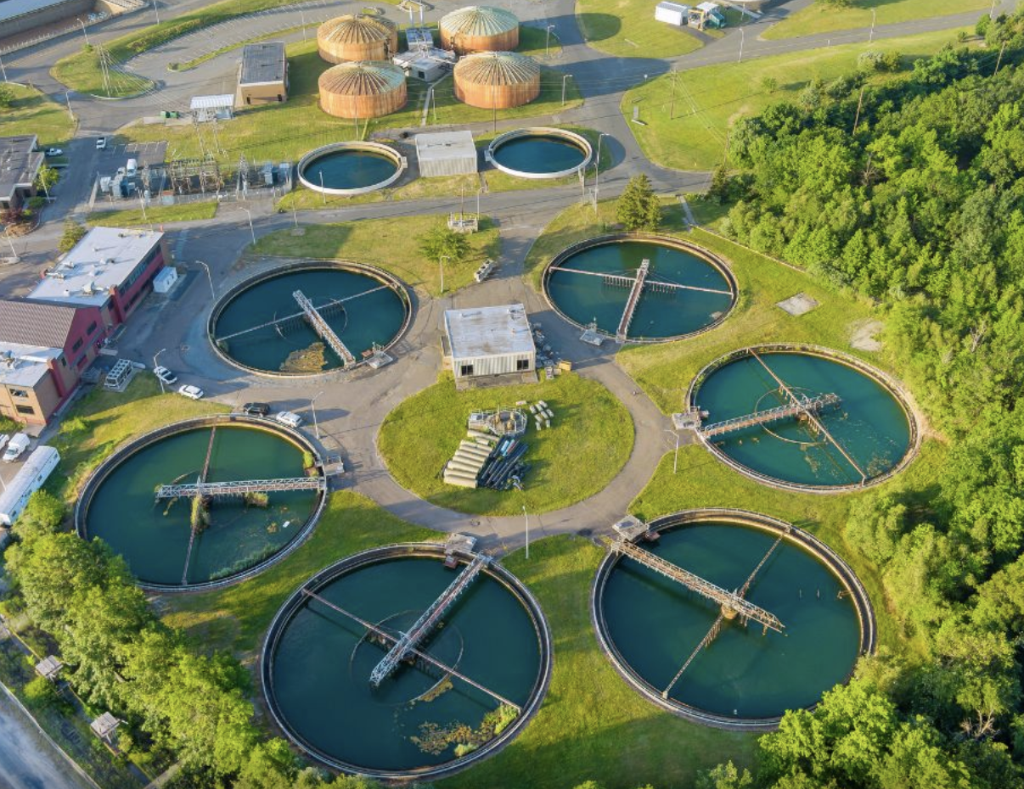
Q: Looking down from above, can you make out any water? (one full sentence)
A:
Yes, there is water in the image.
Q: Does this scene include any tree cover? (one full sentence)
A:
Yes, tree cover shows up in the scene.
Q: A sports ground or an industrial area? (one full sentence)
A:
What you see here is an industrial area.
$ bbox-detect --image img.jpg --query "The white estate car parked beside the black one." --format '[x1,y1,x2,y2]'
[273,409,304,428]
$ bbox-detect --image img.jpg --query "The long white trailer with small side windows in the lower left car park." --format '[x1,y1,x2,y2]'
[0,447,60,543]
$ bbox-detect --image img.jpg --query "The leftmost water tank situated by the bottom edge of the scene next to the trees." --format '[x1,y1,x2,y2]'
[261,539,554,786]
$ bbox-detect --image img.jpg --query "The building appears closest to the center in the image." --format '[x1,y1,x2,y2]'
[436,302,539,393]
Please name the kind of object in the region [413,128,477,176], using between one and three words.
building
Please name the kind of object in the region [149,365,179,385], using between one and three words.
vehicle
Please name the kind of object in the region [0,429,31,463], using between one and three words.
van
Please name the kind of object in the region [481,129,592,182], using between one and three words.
water tank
